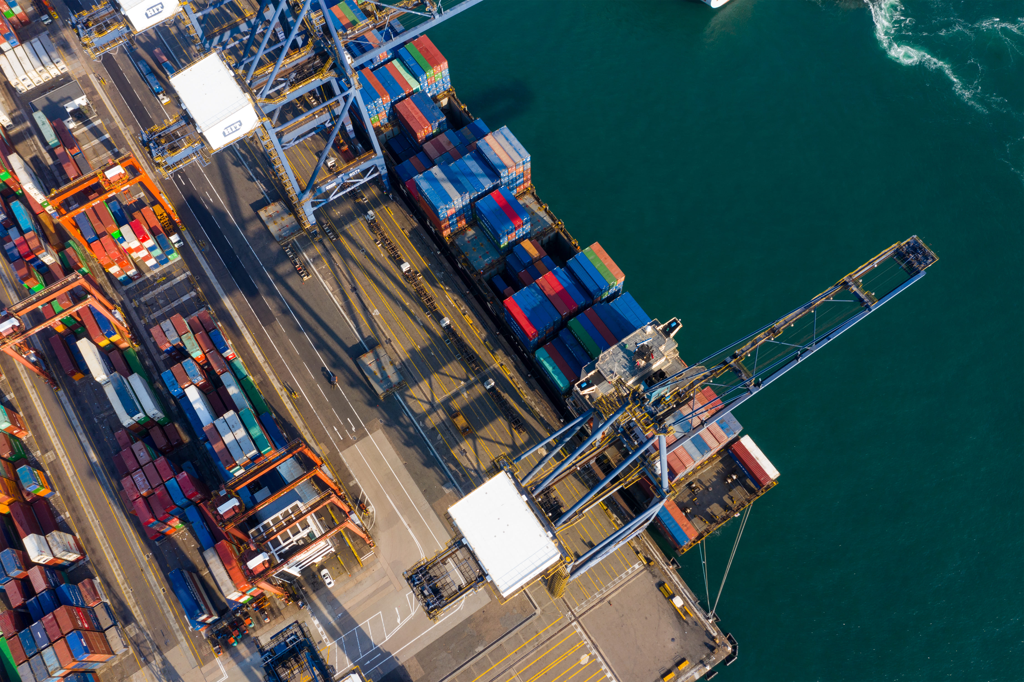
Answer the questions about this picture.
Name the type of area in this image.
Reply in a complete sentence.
The area seen from above is a port.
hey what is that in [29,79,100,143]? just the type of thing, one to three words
building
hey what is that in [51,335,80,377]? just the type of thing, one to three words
shipping container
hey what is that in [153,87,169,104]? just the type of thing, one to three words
vehicle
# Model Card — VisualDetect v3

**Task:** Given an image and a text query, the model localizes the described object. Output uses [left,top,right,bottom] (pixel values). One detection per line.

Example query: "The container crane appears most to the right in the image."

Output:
[397,231,946,638]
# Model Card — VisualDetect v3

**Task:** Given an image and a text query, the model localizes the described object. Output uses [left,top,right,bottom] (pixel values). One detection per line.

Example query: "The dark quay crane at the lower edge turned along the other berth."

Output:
[241,605,377,682]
